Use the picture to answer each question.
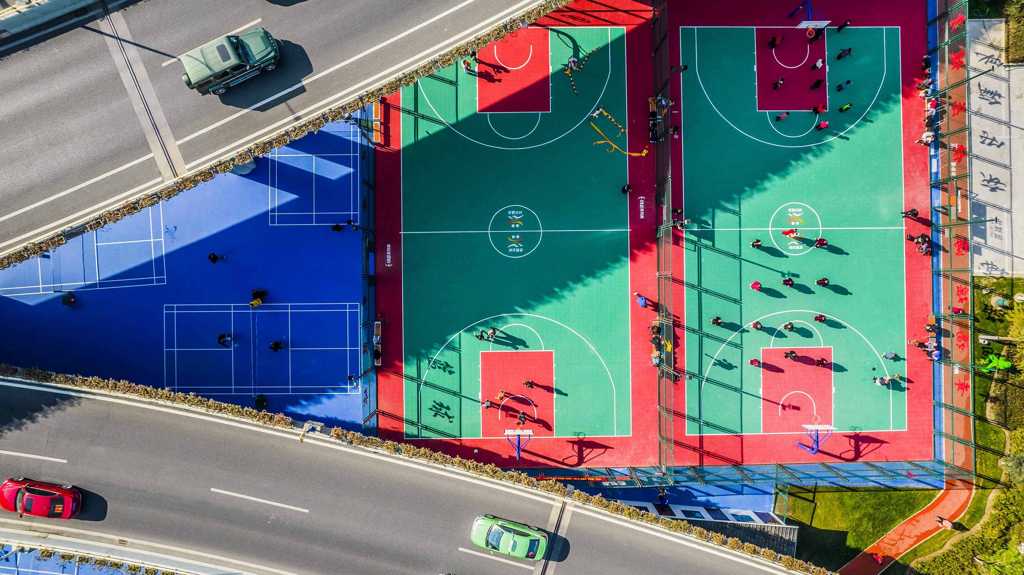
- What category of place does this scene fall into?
sports ground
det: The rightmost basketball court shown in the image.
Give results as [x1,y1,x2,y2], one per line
[655,0,934,466]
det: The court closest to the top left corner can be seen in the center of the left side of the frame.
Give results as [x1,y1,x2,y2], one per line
[0,206,166,297]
